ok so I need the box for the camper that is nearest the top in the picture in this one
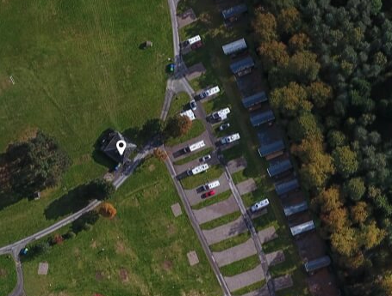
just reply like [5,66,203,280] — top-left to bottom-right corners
[221,2,248,20]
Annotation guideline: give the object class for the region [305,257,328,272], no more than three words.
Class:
camper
